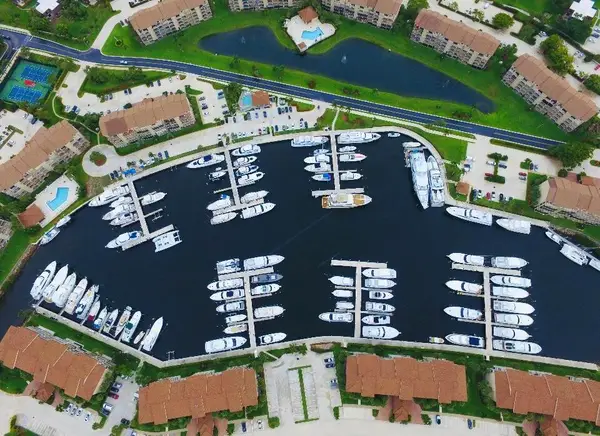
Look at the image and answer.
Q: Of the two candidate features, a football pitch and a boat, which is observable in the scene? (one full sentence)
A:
Of the two, only a boat appears.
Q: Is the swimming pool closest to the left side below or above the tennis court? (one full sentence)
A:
You can see the swimming pool closest to the left side below the tennis court in the frame.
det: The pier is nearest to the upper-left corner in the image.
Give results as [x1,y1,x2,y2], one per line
[120,180,175,251]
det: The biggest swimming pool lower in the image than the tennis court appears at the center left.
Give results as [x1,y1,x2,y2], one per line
[36,177,79,229]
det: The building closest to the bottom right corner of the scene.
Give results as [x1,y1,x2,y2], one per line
[486,365,600,436]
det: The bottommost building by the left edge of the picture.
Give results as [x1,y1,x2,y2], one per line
[0,324,115,403]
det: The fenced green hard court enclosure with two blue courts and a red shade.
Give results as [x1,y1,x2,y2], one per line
[0,56,58,104]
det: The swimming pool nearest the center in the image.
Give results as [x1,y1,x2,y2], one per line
[238,91,255,110]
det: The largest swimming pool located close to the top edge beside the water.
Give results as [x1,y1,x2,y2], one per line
[287,14,335,52]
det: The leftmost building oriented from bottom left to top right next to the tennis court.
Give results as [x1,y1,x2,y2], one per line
[0,117,86,196]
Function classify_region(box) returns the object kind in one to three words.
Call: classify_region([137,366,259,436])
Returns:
building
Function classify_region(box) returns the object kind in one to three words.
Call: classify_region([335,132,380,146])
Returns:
boat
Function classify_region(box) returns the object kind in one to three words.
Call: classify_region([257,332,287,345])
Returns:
boat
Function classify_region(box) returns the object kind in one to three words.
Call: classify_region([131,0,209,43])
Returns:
building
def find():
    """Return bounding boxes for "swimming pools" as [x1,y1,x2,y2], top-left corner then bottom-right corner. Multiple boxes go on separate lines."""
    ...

[238,91,255,110]
[287,14,335,52]
[36,177,79,229]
